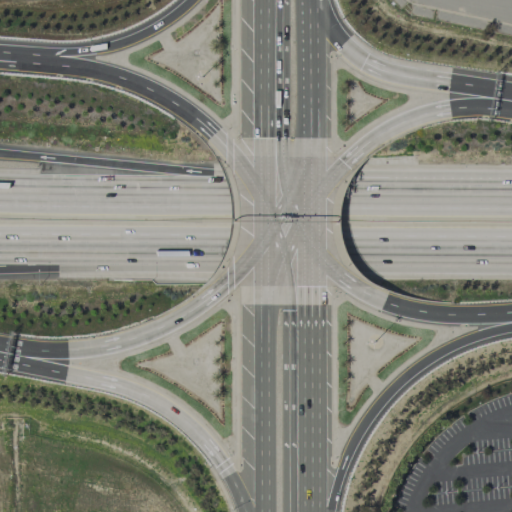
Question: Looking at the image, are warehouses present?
No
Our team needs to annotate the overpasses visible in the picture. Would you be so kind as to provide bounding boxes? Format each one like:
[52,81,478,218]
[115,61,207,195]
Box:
[202,129,384,310]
